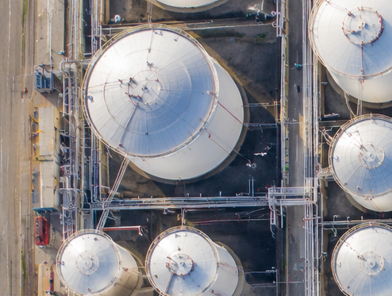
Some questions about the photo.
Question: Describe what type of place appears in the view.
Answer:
industrial area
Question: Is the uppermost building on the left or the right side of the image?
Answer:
left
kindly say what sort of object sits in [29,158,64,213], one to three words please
building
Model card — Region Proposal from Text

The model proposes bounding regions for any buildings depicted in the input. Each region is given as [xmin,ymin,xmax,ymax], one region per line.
[29,158,64,213]
[30,107,64,162]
